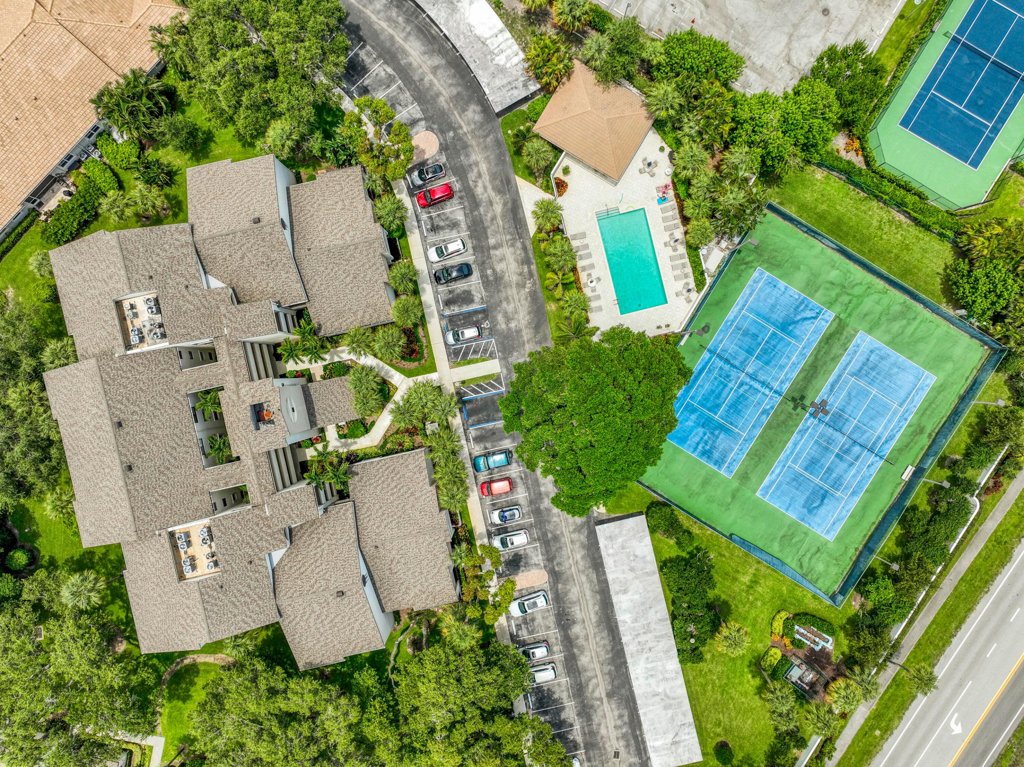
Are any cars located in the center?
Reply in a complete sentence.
Yes, a car shows up in the center.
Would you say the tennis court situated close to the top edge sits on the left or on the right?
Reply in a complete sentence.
You can find the tennis court situated close to the top edge on the right side of the picture.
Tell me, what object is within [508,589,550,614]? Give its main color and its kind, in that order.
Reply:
white car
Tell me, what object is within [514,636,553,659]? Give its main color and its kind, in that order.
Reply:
gray car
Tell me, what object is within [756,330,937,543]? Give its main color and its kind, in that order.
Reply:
blue tennis court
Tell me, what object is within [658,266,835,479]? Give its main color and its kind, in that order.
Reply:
blue tennis court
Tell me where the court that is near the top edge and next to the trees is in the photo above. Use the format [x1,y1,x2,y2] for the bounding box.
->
[899,0,1024,172]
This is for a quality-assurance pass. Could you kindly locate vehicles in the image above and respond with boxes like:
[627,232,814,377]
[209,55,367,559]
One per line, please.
[491,526,531,550]
[417,185,456,210]
[520,659,558,683]
[508,589,550,614]
[434,263,474,286]
[478,476,515,497]
[446,325,484,346]
[411,163,448,188]
[489,503,524,525]
[474,449,513,471]
[514,636,553,659]
[428,239,468,263]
